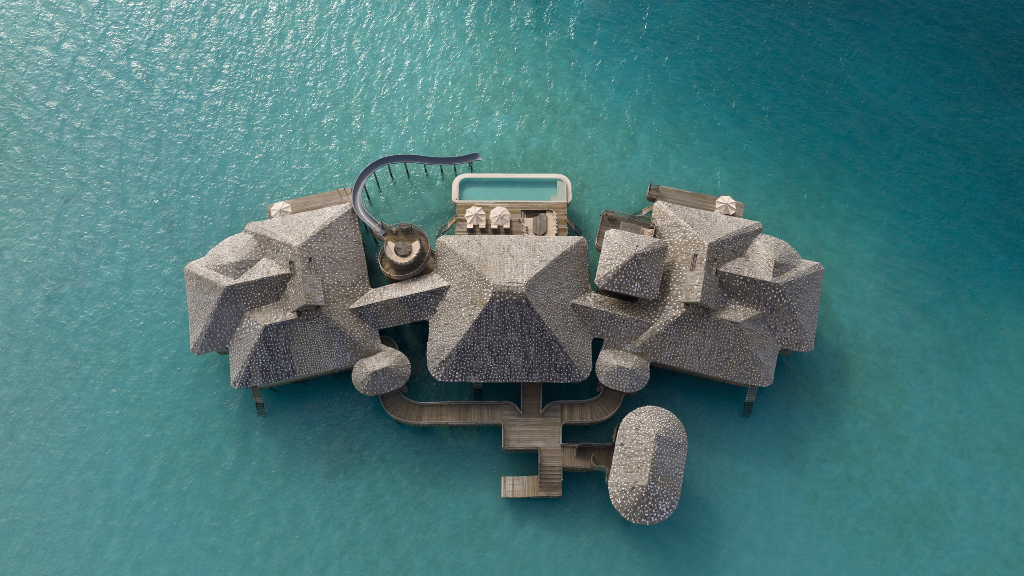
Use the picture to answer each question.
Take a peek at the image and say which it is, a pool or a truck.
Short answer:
pool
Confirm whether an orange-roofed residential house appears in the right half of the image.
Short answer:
No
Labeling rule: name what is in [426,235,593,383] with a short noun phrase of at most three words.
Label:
building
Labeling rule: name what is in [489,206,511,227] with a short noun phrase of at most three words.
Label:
umbrella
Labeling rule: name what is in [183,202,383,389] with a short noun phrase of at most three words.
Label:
house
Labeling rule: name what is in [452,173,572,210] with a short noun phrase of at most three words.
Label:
swimming pool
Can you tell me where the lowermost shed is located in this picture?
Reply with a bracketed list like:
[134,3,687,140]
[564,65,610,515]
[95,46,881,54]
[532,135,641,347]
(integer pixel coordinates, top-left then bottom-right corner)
[608,406,689,526]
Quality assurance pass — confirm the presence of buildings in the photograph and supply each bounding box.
[426,235,593,383]
[628,200,826,388]
[183,202,383,389]
[608,406,689,526]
